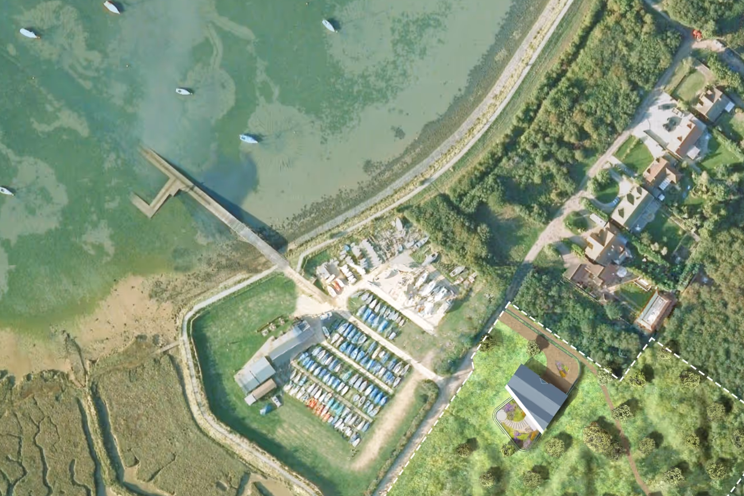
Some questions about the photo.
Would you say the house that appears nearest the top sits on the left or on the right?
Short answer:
right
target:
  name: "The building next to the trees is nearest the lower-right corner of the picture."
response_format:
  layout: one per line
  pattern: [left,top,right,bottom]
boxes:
[636,292,672,332]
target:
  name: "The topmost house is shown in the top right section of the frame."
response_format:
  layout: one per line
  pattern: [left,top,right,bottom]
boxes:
[698,90,734,122]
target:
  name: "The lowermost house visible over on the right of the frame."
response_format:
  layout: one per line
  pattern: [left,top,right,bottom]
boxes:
[505,365,569,435]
